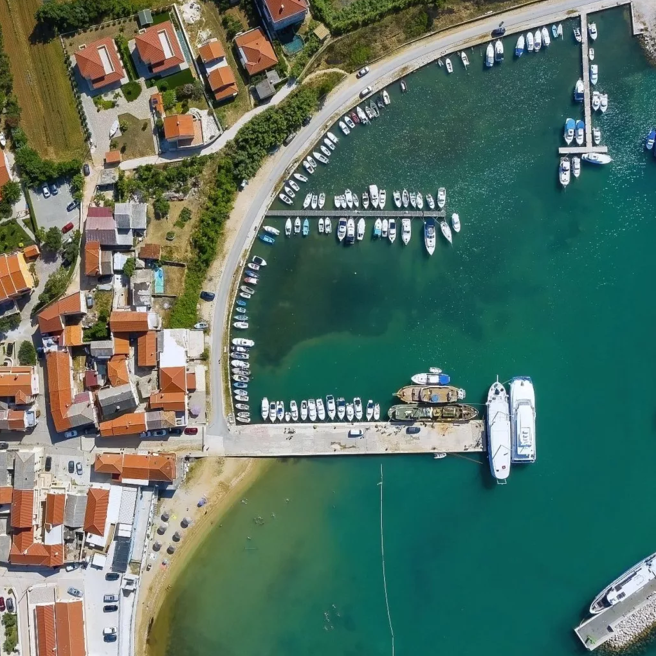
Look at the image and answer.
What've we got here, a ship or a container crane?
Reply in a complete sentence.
The one in the frame is a ship.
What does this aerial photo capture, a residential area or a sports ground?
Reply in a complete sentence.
The area seen from above is a residential area.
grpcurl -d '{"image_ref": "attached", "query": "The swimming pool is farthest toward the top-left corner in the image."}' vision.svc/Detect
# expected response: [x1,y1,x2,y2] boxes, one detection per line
[176,28,191,63]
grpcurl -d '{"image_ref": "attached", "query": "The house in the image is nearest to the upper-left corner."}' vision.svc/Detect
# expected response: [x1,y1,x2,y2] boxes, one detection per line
[75,36,124,90]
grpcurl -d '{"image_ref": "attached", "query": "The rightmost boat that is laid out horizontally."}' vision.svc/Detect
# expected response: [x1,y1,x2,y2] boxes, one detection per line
[581,151,613,163]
